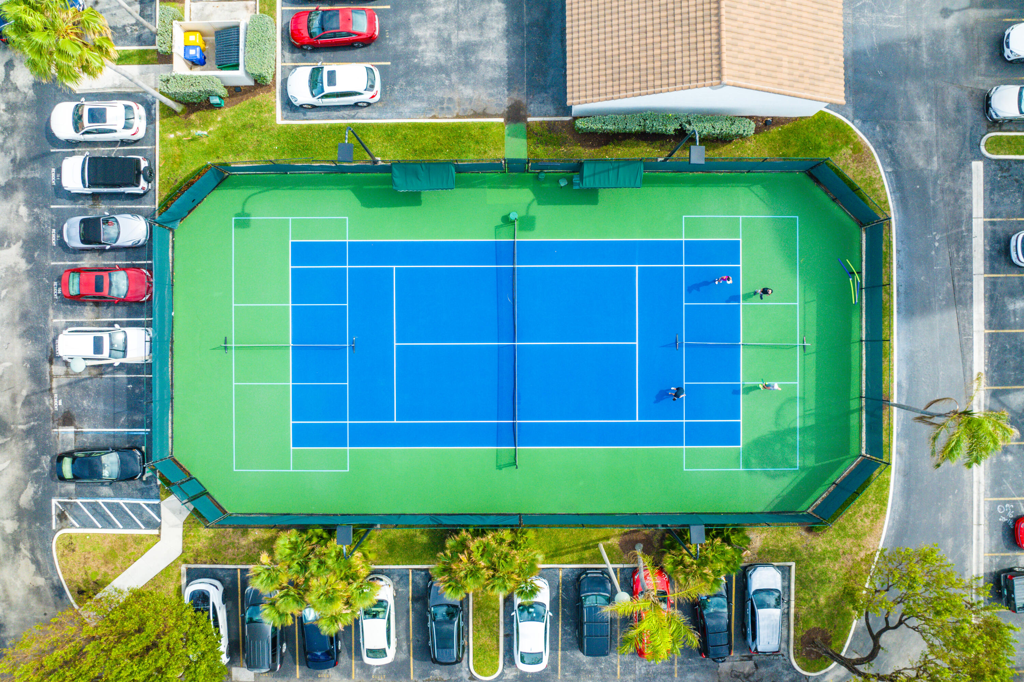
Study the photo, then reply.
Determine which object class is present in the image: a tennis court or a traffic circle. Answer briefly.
tennis court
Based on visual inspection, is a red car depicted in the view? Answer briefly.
Yes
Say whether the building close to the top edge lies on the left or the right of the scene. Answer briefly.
right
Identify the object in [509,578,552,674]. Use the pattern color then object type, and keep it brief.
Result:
white car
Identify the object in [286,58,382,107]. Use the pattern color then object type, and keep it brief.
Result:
white car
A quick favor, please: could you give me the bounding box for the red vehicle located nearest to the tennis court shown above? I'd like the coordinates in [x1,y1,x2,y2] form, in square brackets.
[58,263,154,306]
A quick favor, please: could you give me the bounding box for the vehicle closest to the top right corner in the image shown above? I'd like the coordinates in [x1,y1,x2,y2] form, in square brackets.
[999,23,1024,64]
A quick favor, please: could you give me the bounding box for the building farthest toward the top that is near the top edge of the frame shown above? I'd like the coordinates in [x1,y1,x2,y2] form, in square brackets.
[566,0,847,116]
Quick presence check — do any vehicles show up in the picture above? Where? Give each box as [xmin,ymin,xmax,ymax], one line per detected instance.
[58,263,154,306]
[997,568,1024,612]
[286,58,382,107]
[574,569,615,661]
[62,210,152,253]
[302,609,343,673]
[509,578,552,674]
[1010,512,1024,549]
[999,23,1024,64]
[289,3,381,51]
[981,79,1024,125]
[59,151,151,196]
[423,581,467,670]
[53,444,149,487]
[1005,231,1024,268]
[740,562,788,658]
[52,322,154,367]
[693,593,737,670]
[238,583,287,680]
[50,96,149,143]
[359,573,397,668]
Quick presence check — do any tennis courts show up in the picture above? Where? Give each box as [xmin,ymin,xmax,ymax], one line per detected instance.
[173,171,862,513]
